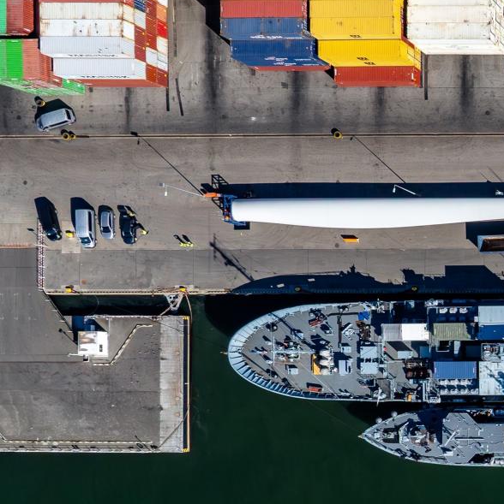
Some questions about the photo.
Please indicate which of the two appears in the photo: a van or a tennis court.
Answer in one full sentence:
Of the two, only a van appears.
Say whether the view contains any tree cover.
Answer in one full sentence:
No, tree cover can't be seen anywhere here.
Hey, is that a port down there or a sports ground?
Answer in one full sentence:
This image shows a port.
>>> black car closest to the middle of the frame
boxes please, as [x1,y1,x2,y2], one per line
[116,211,135,243]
